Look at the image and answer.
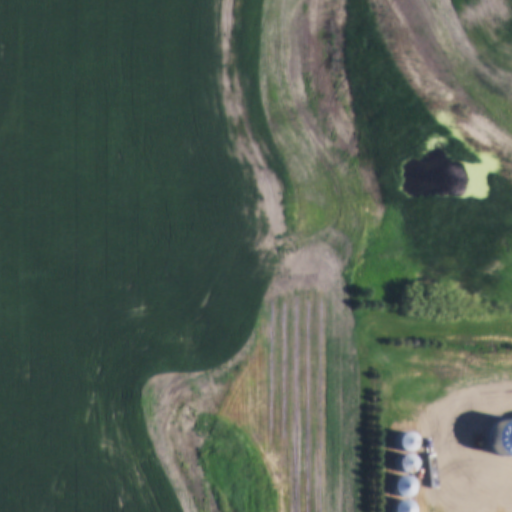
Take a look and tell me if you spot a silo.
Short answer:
Yes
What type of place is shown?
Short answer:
farmland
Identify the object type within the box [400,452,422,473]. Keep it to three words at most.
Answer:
silo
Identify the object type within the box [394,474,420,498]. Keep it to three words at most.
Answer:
silo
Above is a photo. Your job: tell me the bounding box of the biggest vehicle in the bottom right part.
[427,438,440,488]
